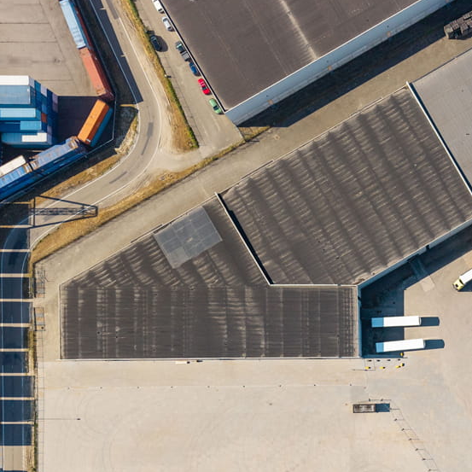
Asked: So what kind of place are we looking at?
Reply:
industrial area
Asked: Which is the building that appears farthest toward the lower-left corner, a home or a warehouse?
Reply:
warehouse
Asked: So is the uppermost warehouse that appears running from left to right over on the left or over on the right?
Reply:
right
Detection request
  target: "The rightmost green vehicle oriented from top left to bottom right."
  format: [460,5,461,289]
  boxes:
[209,98,223,115]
